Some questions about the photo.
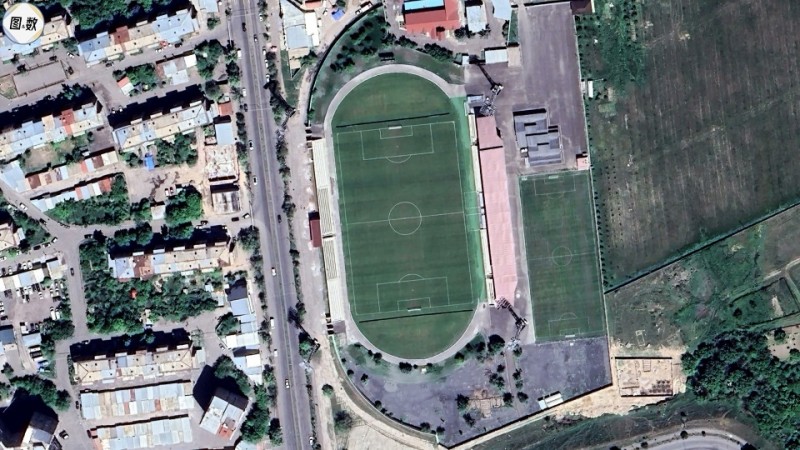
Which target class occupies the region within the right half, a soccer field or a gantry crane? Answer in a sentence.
Visible within the right half is a soccer field.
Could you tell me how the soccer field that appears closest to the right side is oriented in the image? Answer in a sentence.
Seen from above, the soccer field that appears closest to the right side lies from top to bottom.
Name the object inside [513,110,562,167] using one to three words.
building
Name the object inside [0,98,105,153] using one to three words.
building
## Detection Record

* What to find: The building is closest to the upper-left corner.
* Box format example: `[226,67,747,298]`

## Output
[0,9,71,60]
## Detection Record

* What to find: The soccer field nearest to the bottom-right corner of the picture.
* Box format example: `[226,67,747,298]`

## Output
[520,170,606,344]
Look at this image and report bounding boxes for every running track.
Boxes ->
[326,67,486,370]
